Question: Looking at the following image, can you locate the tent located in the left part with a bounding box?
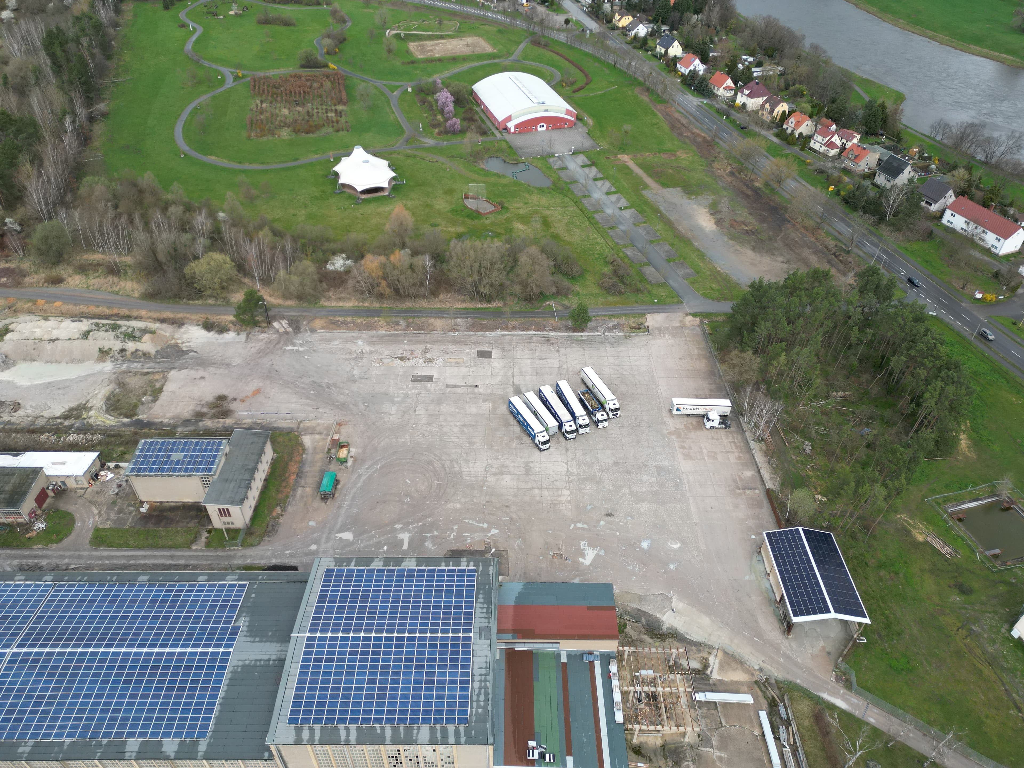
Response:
[328,146,403,203]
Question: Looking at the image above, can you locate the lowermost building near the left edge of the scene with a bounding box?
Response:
[0,573,313,768]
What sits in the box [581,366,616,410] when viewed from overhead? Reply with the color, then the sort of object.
white trailer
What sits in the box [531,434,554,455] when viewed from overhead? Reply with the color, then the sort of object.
white truck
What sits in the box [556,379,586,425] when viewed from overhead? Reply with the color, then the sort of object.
white trailer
